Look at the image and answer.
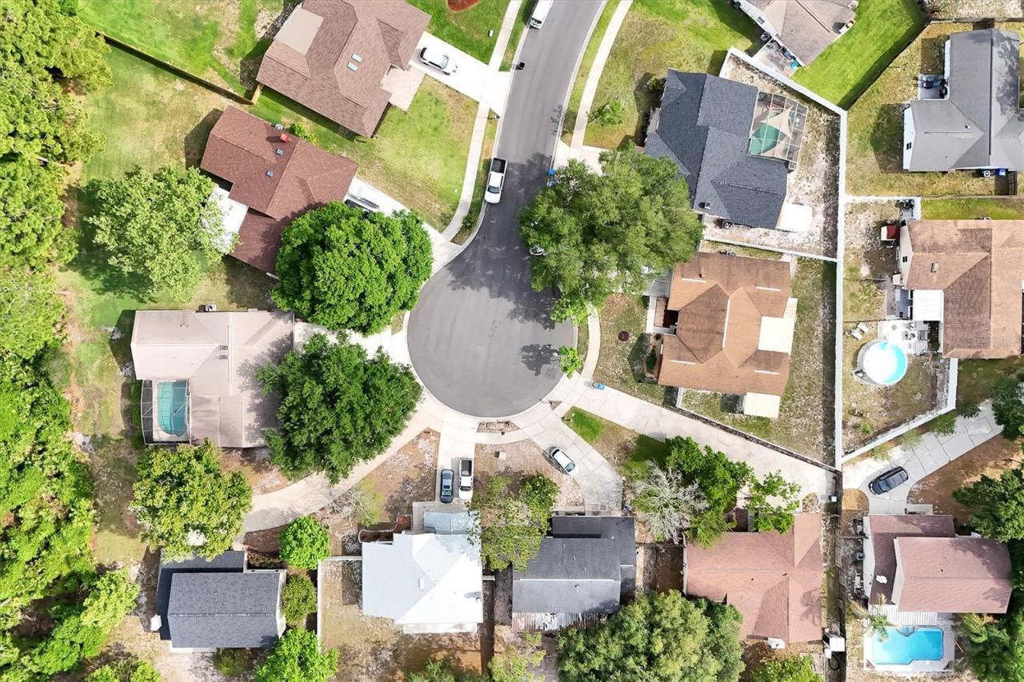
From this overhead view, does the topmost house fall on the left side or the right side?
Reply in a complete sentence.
It is on the right.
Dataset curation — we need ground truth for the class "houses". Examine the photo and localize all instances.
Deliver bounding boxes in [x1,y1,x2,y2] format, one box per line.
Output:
[862,514,1012,625]
[902,29,1024,172]
[146,549,289,652]
[898,220,1024,359]
[357,512,482,633]
[657,251,798,418]
[131,309,296,447]
[746,0,858,68]
[256,0,432,137]
[640,68,787,229]
[685,511,824,642]
[200,105,359,275]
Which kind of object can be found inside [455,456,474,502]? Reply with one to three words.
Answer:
vehicle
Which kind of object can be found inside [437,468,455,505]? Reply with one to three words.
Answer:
car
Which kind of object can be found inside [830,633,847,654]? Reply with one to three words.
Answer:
shed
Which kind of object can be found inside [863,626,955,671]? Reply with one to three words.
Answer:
swimming pool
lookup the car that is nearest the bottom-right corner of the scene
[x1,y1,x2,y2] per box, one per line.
[872,467,911,495]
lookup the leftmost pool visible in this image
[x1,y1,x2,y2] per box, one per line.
[153,379,190,441]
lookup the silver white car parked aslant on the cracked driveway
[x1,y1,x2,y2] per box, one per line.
[543,444,577,478]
